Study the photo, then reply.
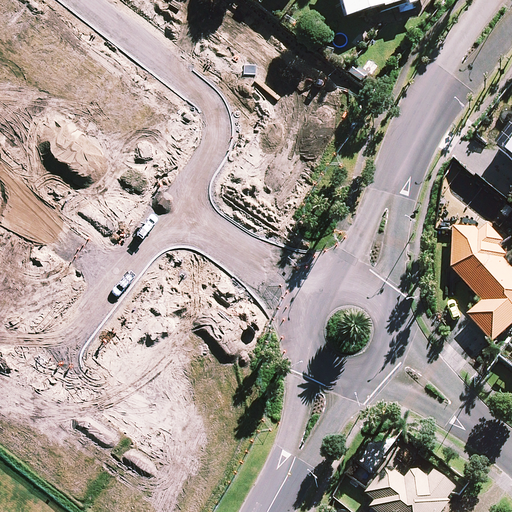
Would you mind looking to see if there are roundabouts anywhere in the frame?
Yes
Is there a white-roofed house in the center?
No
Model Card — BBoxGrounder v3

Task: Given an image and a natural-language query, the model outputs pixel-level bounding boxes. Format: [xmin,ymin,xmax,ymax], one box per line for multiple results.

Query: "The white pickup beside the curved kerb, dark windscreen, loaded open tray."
[111,271,138,296]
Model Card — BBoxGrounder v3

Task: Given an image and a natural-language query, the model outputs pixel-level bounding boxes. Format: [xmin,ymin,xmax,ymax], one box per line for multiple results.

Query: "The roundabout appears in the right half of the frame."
[285,256,416,403]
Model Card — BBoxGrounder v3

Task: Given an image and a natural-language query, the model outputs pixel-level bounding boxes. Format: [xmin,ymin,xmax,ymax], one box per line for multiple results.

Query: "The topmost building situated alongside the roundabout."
[450,222,512,340]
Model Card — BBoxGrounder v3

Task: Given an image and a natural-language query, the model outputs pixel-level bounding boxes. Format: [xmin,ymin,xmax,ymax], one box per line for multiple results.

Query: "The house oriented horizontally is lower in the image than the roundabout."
[364,468,456,512]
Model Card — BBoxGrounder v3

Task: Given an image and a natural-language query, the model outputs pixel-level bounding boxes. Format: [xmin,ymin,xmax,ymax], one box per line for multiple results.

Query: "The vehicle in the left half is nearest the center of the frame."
[132,214,161,244]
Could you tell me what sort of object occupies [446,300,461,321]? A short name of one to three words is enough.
car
